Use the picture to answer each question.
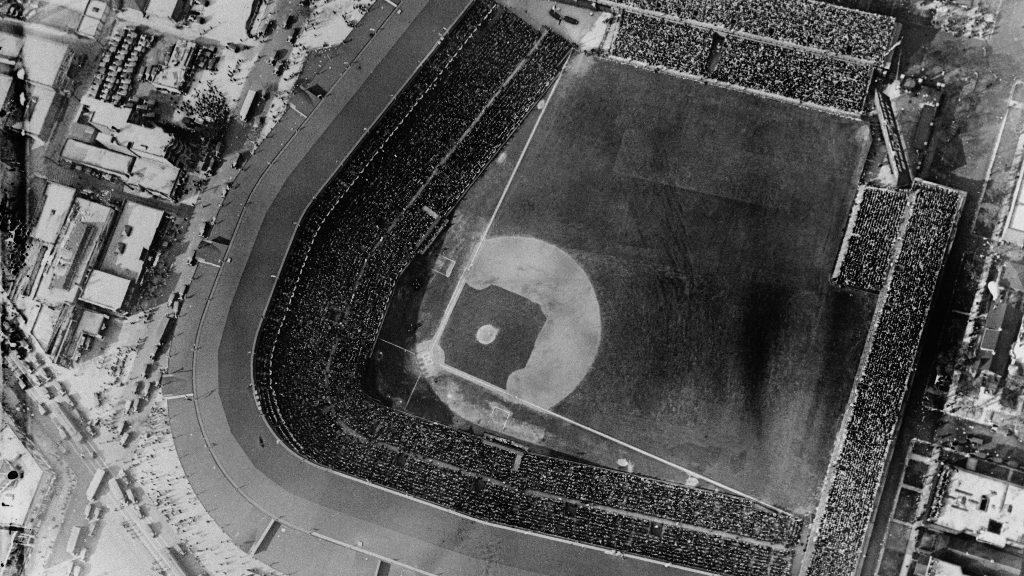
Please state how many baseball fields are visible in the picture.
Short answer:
1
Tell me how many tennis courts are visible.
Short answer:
0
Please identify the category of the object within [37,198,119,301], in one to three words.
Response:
building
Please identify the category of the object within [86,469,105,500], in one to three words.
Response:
vehicle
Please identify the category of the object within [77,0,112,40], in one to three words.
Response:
house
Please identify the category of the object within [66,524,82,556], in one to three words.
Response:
vehicle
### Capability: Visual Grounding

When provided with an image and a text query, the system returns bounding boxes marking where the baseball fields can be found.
[362,48,877,520]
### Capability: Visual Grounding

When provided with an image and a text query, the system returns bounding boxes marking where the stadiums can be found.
[162,0,802,576]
